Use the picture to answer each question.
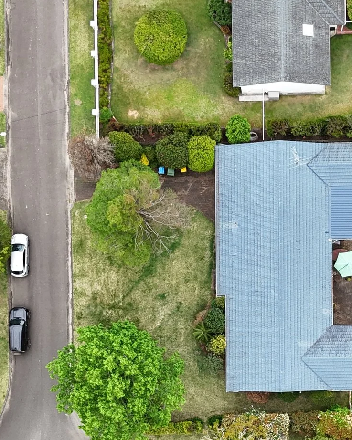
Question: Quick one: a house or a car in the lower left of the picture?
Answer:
car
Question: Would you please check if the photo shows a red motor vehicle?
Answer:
No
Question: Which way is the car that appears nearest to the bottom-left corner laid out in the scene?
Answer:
vertically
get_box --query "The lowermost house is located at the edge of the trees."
[216,140,352,393]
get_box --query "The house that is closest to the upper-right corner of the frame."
[230,0,345,88]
